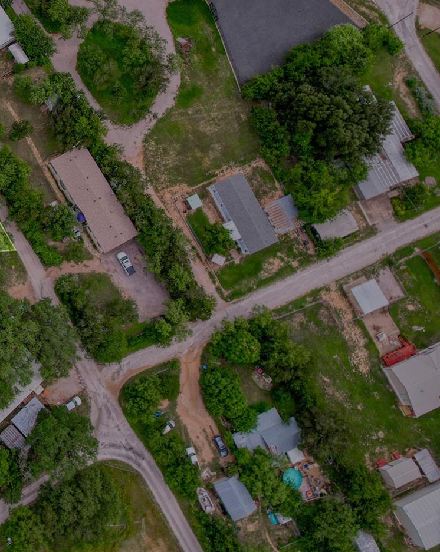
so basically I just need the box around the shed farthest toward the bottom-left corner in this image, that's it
[0,425,25,451]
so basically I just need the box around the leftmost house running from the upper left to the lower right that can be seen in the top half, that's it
[48,149,137,255]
